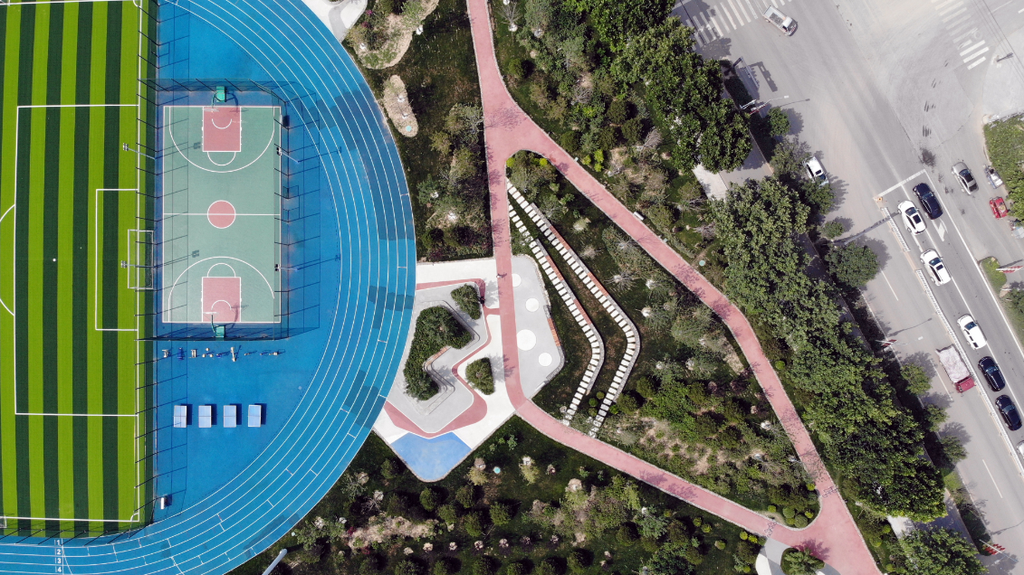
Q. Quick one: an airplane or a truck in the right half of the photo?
truck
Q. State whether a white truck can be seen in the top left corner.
No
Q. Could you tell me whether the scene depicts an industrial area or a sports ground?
sports ground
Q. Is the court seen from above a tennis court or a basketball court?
basketball court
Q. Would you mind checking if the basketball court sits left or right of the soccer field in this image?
on the right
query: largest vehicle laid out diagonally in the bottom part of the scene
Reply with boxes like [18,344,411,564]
[938,345,980,395]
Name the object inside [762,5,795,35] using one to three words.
truck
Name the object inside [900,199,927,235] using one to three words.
car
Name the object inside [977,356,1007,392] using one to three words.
car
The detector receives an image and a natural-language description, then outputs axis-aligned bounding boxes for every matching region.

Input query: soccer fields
[0,0,158,539]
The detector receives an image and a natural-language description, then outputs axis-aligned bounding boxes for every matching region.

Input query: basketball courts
[158,89,289,338]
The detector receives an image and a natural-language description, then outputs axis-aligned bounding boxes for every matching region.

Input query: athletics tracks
[0,0,416,575]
